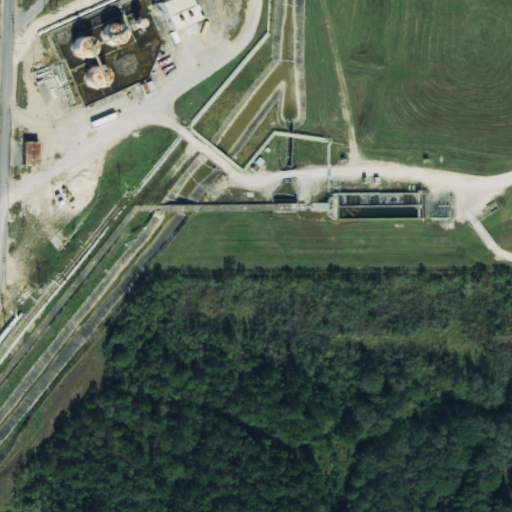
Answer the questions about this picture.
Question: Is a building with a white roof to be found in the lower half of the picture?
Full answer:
No, no building with a white roof can be made out in the lower half of the picture.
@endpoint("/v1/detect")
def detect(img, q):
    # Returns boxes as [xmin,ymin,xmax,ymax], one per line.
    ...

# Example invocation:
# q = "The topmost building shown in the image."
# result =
[158,0,206,32]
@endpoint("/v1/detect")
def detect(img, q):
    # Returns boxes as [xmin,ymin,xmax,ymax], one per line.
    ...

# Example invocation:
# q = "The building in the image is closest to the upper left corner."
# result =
[24,142,41,166]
